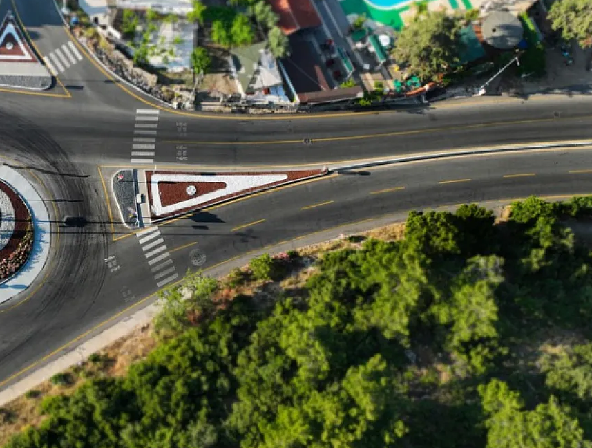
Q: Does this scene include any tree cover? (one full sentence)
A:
Yes, tree cover can be seen from above here.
